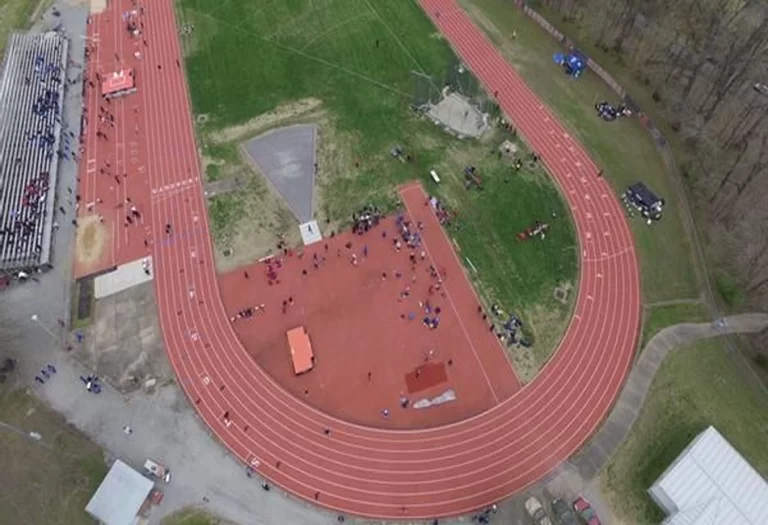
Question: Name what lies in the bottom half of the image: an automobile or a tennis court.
automobile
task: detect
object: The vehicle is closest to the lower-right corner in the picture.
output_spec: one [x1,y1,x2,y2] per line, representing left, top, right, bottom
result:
[572,497,605,525]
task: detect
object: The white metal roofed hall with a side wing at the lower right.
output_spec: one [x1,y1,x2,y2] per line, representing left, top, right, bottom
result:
[652,426,768,525]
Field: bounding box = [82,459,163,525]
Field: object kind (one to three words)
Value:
shed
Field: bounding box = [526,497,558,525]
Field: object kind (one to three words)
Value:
car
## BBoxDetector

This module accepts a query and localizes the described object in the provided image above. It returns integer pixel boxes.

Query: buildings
[652,426,768,525]
[82,459,163,525]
